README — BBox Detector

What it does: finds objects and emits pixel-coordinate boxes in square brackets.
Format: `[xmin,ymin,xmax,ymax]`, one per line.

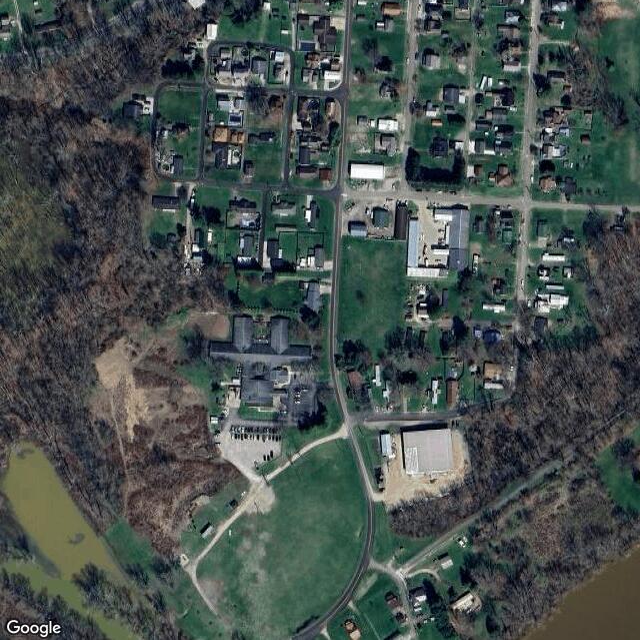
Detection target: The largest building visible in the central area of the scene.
[209,317,312,405]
